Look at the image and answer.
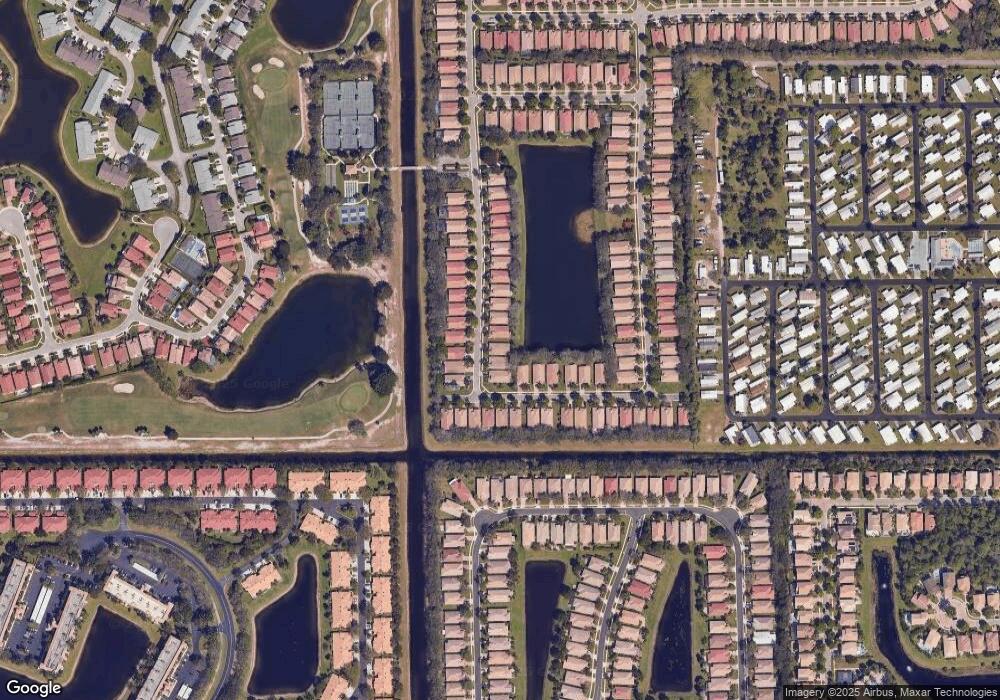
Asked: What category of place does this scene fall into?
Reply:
residential area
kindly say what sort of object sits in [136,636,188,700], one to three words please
building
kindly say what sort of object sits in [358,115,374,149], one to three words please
tennis court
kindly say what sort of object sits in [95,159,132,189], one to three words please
house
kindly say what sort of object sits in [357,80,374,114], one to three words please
tennis court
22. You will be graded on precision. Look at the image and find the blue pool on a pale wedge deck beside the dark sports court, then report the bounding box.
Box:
[180,234,208,265]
